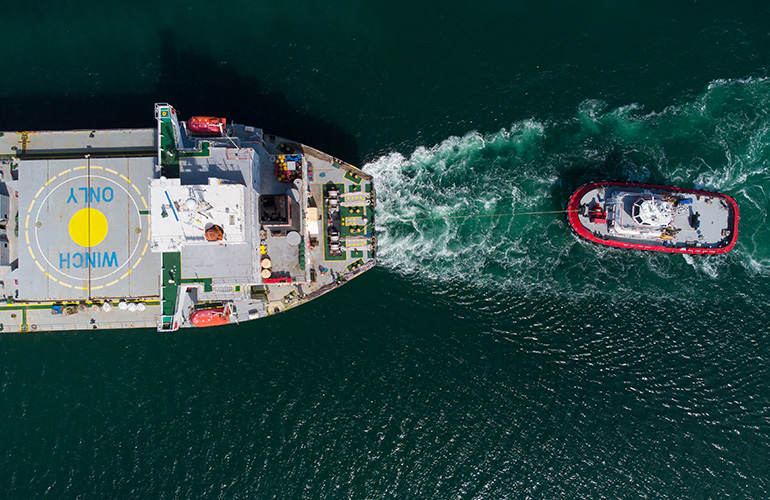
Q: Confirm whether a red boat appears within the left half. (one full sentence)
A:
Yes, a red boat can be seen within the left half.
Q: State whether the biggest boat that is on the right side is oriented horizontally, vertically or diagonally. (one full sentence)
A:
The biggest boat that is on the right side is oriented horizontally.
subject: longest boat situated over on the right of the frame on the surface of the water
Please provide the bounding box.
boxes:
[563,181,739,254]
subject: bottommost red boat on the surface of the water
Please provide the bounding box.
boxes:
[192,307,235,328]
